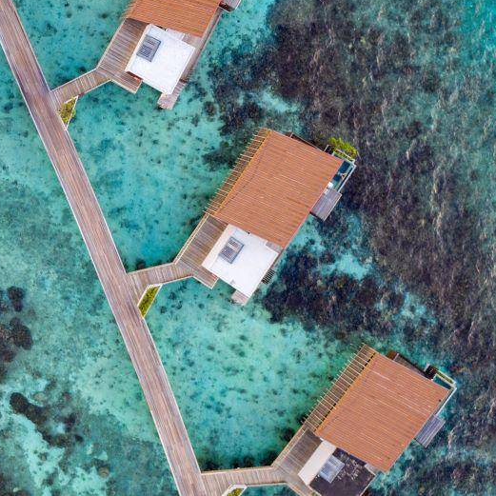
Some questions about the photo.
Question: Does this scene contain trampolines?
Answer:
No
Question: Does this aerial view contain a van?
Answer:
No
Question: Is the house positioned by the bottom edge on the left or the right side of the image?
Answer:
right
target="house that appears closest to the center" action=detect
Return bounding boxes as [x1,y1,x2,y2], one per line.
[172,127,354,304]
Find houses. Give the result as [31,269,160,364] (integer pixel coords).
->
[172,127,354,304]
[265,342,457,496]
[96,0,241,112]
